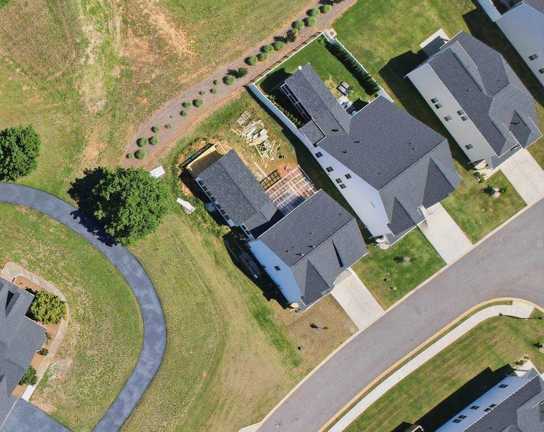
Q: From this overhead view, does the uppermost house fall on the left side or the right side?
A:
right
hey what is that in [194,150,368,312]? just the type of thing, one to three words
house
